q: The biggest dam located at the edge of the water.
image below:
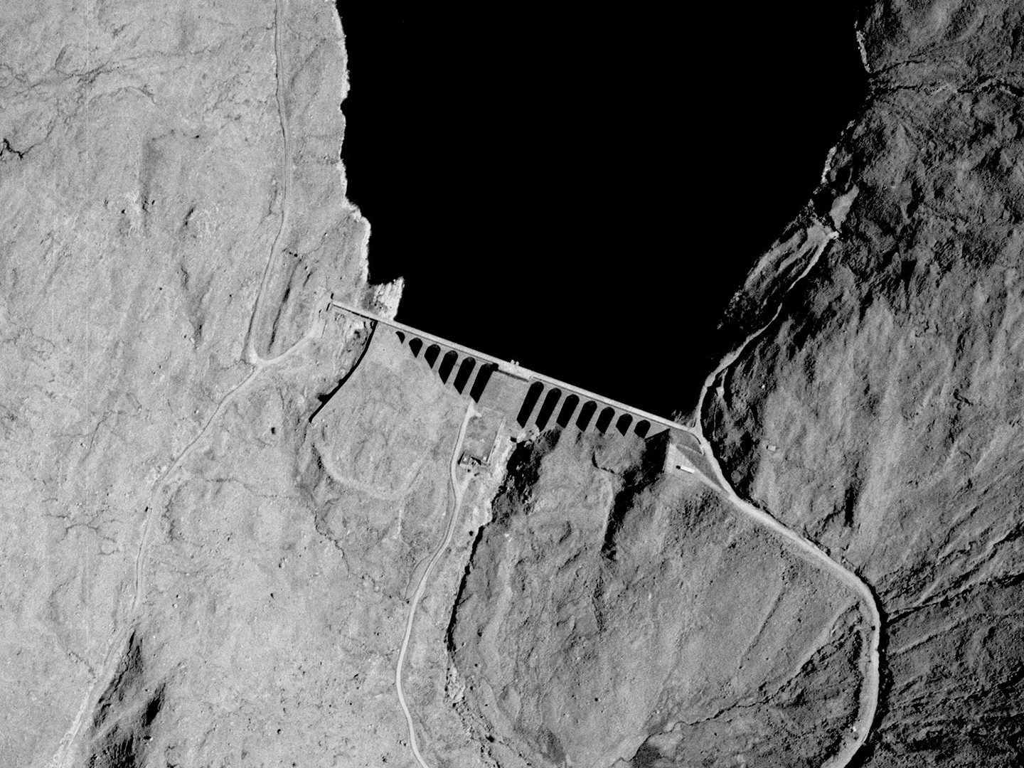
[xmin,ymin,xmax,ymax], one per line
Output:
[333,301,701,443]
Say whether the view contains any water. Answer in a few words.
Yes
